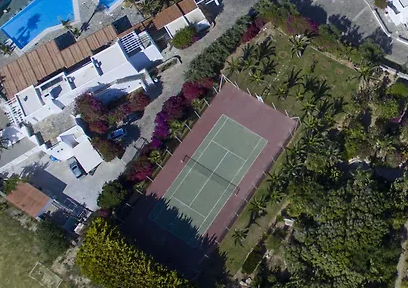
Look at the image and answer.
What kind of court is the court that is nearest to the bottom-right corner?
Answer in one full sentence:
Specifically, the court that is nearest to the bottom-right corner is a tennis court.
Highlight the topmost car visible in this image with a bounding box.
[118,113,139,128]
